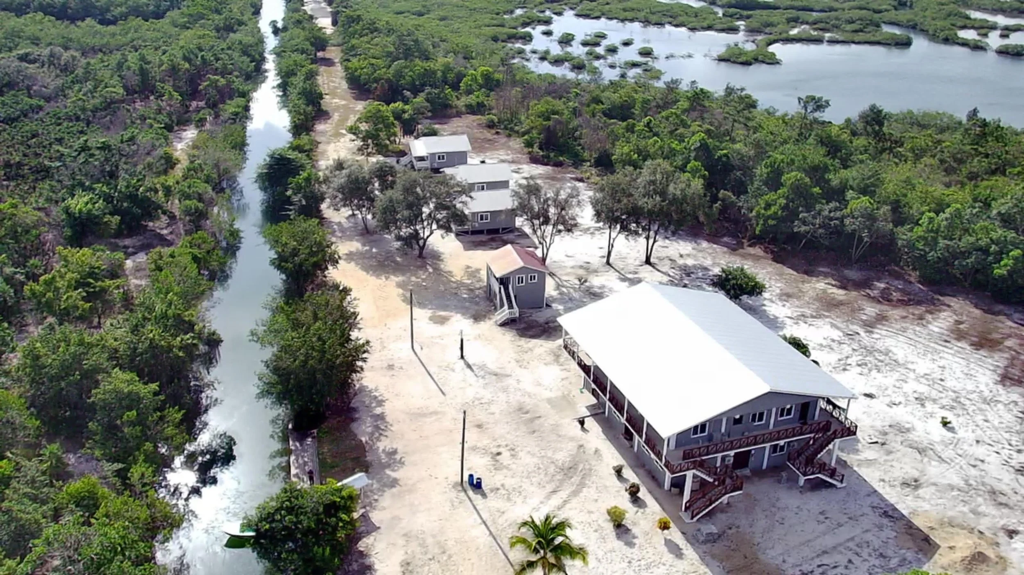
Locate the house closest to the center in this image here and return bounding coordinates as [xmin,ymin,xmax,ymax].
[485,245,549,330]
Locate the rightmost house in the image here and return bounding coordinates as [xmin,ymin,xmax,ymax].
[560,282,857,525]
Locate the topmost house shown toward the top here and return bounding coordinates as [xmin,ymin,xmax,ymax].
[399,135,470,174]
